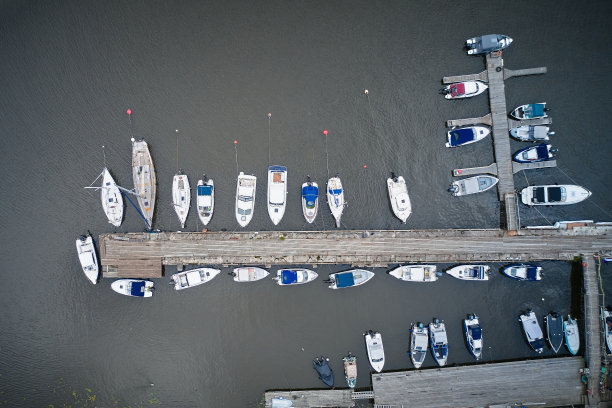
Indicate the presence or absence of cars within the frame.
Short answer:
No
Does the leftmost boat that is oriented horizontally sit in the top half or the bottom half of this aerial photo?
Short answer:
bottom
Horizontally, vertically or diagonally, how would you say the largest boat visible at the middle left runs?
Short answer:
vertically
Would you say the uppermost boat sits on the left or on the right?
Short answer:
right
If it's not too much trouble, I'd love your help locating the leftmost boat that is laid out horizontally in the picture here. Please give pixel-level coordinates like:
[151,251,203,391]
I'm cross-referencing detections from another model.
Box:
[110,277,157,297]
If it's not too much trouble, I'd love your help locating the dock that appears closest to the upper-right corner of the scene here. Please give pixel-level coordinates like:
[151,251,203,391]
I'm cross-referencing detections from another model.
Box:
[504,67,549,81]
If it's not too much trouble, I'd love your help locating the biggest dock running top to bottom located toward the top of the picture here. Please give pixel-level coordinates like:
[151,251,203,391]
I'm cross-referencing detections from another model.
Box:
[486,54,515,203]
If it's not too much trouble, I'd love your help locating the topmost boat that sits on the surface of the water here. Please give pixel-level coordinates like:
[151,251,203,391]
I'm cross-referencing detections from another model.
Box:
[463,35,514,55]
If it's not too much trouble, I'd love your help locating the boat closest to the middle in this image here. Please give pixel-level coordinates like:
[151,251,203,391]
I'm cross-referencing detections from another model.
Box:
[302,179,319,232]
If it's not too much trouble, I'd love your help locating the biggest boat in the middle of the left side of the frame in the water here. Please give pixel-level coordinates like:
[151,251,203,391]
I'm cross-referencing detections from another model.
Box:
[114,113,157,235]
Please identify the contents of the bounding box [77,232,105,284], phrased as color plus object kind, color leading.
white boat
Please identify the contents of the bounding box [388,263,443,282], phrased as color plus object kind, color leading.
white boat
